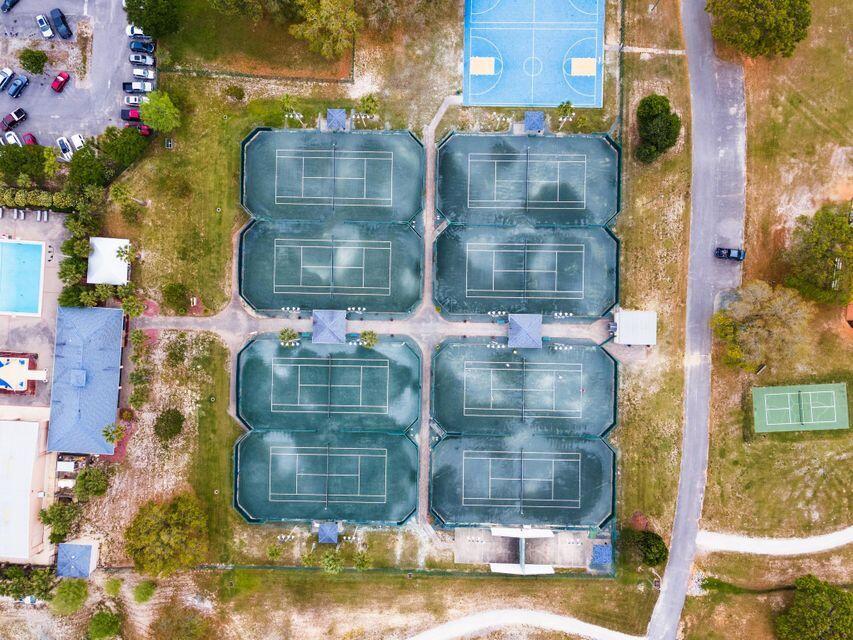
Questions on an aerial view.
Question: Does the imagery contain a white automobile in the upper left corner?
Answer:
Yes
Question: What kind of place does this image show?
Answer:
sports ground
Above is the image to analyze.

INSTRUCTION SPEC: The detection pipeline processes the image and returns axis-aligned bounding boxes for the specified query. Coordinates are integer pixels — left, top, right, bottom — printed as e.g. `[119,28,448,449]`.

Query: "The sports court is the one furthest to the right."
[752,383,848,433]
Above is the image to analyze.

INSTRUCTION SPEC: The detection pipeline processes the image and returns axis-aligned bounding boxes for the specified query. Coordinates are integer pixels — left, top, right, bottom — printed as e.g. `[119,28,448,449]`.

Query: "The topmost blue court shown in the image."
[464,0,606,26]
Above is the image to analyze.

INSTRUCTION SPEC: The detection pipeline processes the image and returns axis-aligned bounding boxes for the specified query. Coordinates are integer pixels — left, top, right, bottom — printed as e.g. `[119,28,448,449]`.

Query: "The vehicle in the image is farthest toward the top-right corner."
[712,248,745,260]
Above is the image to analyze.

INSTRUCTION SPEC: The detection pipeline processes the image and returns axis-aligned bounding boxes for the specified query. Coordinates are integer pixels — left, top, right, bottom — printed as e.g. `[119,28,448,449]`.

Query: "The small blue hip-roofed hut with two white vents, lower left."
[56,541,97,578]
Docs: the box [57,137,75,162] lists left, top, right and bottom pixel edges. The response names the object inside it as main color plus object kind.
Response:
white car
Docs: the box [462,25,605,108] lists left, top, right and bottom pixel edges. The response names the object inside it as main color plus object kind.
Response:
blue basketball court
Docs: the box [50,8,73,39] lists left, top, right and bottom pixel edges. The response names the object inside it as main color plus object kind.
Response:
blue car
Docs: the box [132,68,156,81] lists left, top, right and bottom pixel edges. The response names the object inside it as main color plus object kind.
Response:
white vehicle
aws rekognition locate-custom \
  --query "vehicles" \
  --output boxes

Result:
[712,248,745,260]
[0,68,17,92]
[127,122,151,132]
[127,27,150,38]
[0,0,22,14]
[606,323,614,330]
[122,0,132,9]
[132,68,156,81]
[57,137,75,162]
[36,15,56,39]
[22,130,41,148]
[122,109,151,122]
[130,54,156,67]
[4,129,25,152]
[9,76,30,98]
[69,132,87,153]
[50,8,73,39]
[52,72,71,93]
[0,107,28,132]
[130,42,156,53]
[126,95,150,106]
[123,81,154,93]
